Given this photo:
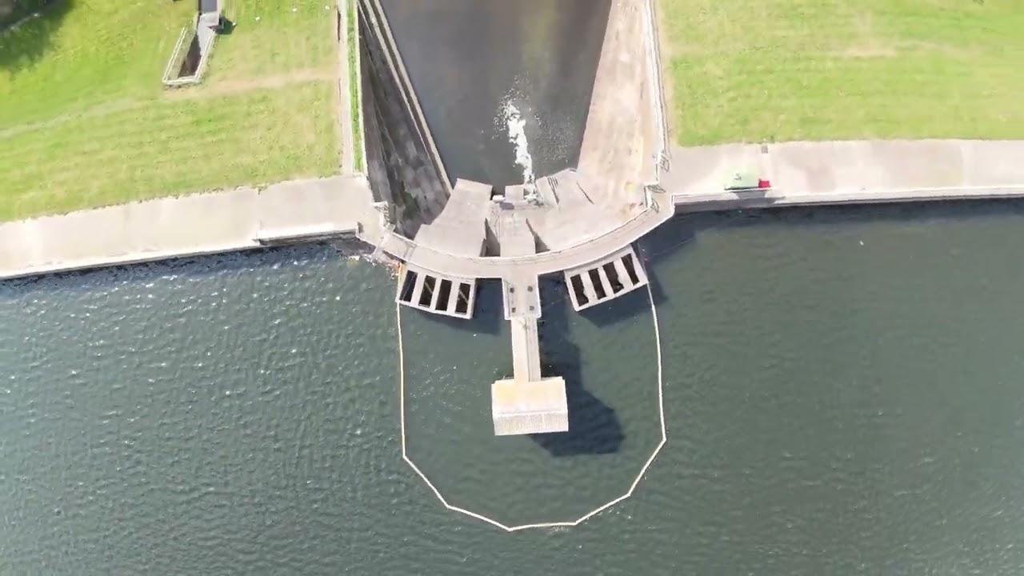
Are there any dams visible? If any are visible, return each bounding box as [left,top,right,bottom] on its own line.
[0,0,1024,281]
